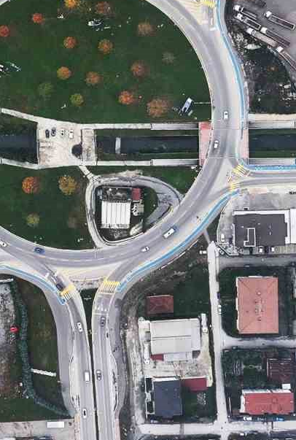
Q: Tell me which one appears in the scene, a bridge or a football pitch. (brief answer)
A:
bridge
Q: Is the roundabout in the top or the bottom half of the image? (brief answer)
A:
top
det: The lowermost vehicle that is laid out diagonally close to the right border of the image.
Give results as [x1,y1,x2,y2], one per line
[276,46,296,70]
